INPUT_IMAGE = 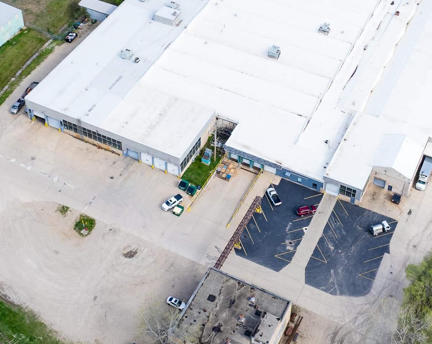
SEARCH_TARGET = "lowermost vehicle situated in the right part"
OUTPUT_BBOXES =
[368,221,392,234]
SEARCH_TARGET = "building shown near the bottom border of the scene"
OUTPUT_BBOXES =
[170,267,291,344]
